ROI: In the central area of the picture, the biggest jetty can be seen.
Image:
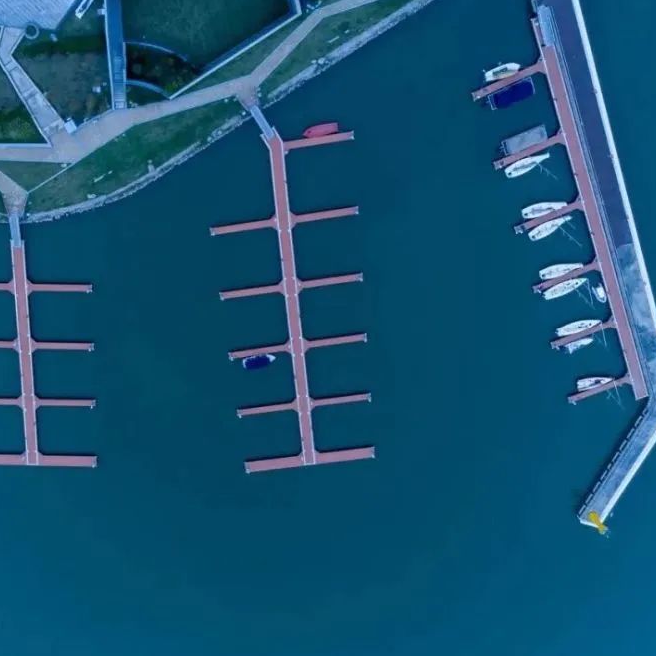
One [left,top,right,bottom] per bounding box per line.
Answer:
[210,126,375,475]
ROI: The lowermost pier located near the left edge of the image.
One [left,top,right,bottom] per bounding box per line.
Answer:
[0,238,98,470]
